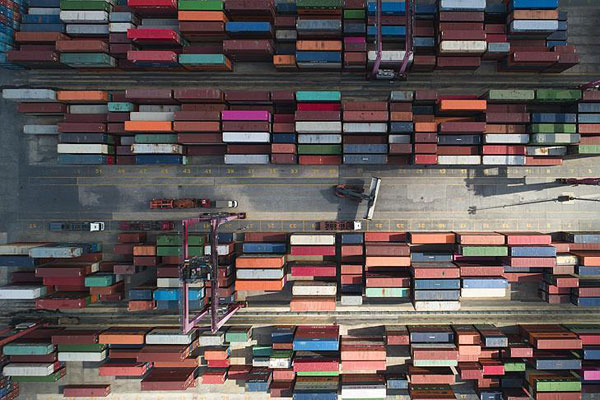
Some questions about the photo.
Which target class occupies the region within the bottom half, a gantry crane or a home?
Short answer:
gantry crane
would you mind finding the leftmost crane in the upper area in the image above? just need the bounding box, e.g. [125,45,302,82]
[363,0,416,77]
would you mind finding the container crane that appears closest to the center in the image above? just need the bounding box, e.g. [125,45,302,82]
[179,211,246,334]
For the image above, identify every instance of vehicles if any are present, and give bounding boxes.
[215,200,237,208]
[332,175,381,218]
[148,199,210,209]
[47,221,103,232]
[315,221,362,231]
